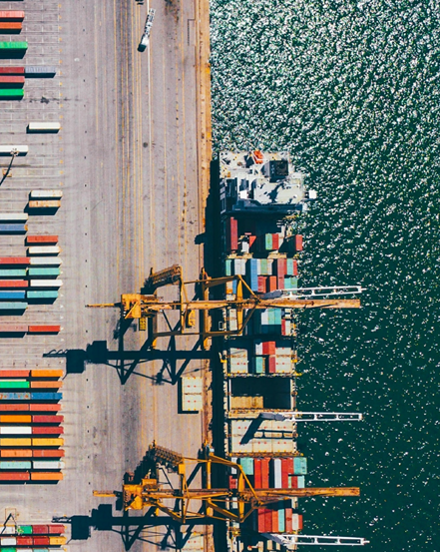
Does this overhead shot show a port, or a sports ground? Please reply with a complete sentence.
This looks like a port.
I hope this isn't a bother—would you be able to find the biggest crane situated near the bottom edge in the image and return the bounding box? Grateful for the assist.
[87,440,364,525]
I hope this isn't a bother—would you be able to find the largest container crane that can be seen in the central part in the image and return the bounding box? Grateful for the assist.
[85,264,360,355]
